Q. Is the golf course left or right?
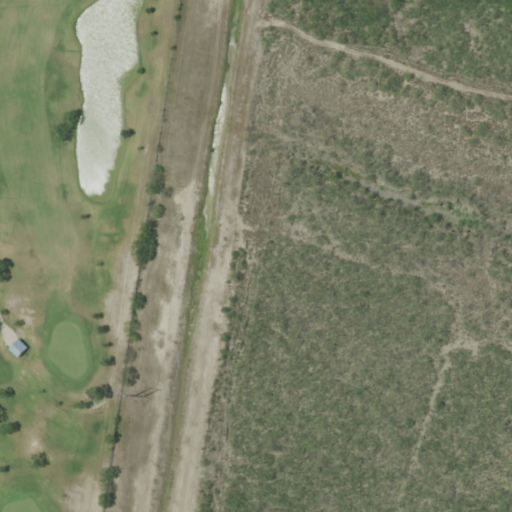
left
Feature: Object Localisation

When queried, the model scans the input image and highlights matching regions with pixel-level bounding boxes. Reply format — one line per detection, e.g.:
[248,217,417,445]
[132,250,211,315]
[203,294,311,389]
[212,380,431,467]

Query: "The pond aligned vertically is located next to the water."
[78,0,141,194]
